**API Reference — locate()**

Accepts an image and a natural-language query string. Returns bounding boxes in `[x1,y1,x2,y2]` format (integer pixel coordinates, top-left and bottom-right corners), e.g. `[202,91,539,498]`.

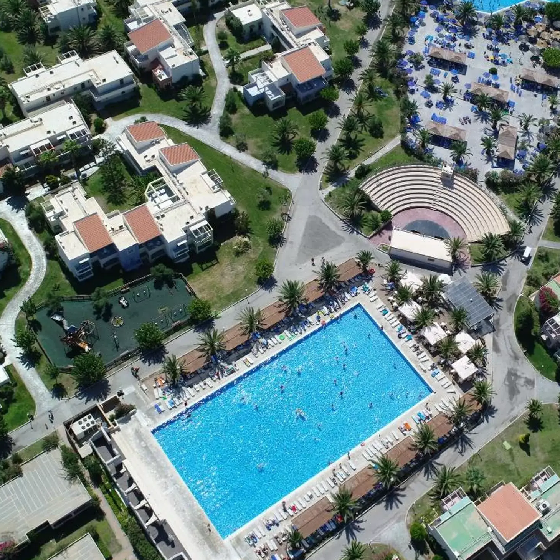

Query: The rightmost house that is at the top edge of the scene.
[228,0,329,109]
